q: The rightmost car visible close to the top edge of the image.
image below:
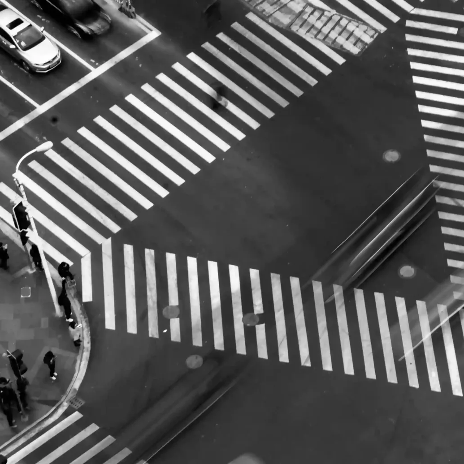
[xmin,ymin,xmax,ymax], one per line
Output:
[33,0,114,41]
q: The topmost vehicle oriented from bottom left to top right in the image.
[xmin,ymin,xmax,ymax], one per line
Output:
[338,180,434,272]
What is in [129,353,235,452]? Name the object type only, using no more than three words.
car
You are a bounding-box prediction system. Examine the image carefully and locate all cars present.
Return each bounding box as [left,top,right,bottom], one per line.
[406,251,464,332]
[129,353,235,452]
[338,180,434,272]
[0,0,62,74]
[33,0,114,41]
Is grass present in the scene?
No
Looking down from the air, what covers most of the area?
paved ground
